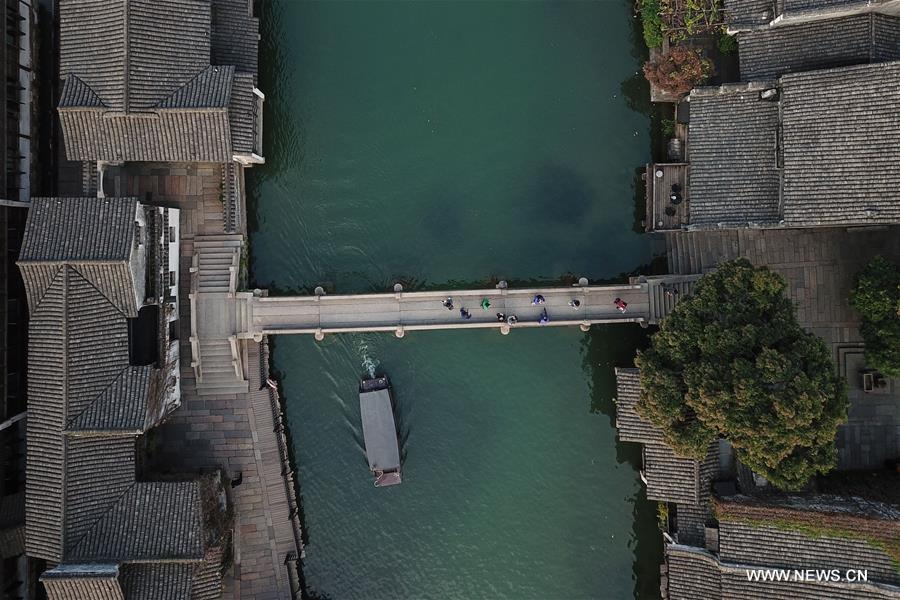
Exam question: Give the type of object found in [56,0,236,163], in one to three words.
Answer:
house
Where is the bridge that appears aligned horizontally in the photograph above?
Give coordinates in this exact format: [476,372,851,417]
[250,276,649,343]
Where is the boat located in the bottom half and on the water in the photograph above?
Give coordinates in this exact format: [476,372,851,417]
[359,373,401,490]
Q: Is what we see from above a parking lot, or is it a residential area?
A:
residential area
